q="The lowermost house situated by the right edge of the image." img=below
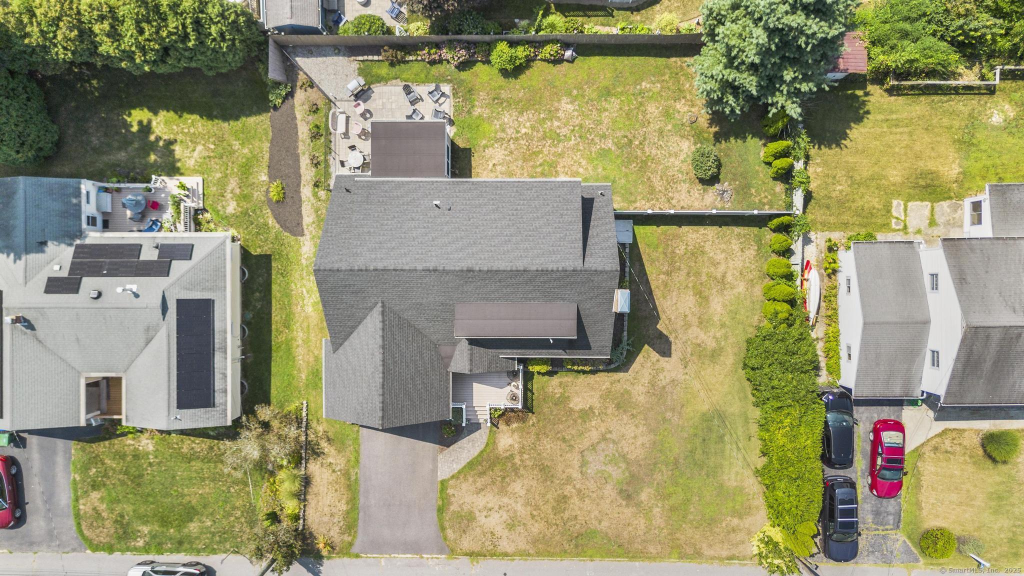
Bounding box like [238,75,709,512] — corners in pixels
[837,182,1024,407]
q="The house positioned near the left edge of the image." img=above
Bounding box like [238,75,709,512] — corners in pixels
[0,175,242,430]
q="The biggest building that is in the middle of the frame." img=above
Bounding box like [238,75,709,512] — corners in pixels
[314,120,630,429]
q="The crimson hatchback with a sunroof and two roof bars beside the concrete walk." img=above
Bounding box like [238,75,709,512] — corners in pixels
[863,417,906,497]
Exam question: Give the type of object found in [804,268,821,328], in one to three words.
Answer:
boat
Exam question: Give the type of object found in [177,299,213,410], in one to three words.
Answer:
solar panel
